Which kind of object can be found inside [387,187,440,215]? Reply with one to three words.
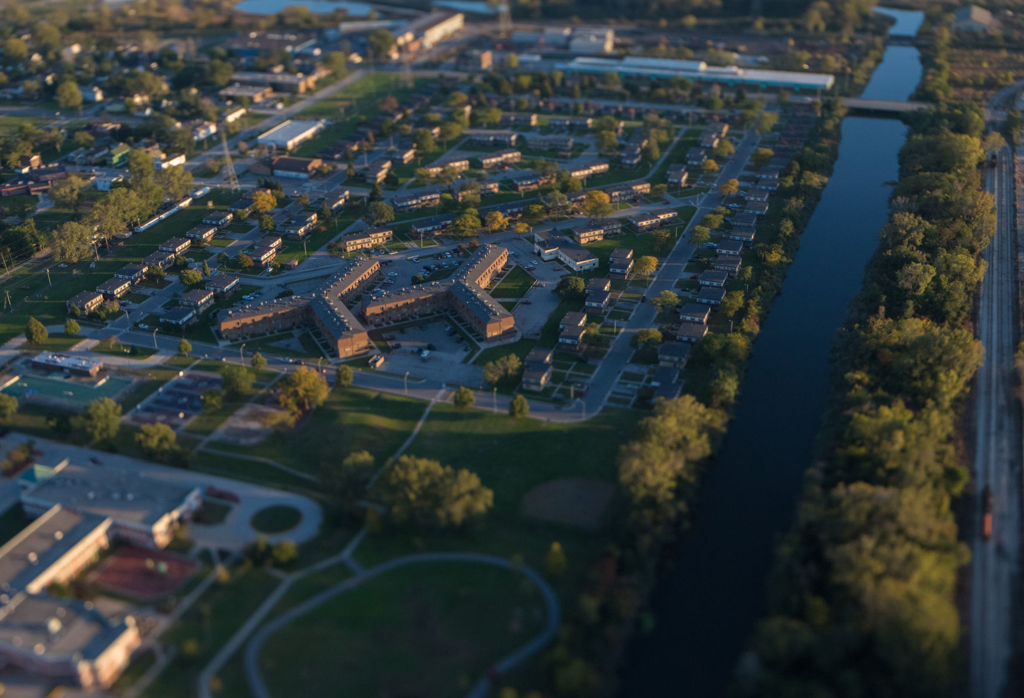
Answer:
house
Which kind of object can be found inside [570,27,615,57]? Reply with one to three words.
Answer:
shed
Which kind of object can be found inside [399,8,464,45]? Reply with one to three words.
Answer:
building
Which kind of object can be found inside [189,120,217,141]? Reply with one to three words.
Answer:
house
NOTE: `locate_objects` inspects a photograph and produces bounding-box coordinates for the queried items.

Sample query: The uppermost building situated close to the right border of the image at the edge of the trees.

[952,6,1000,38]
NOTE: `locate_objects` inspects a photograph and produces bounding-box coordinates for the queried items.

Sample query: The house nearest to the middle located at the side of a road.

[520,345,555,393]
